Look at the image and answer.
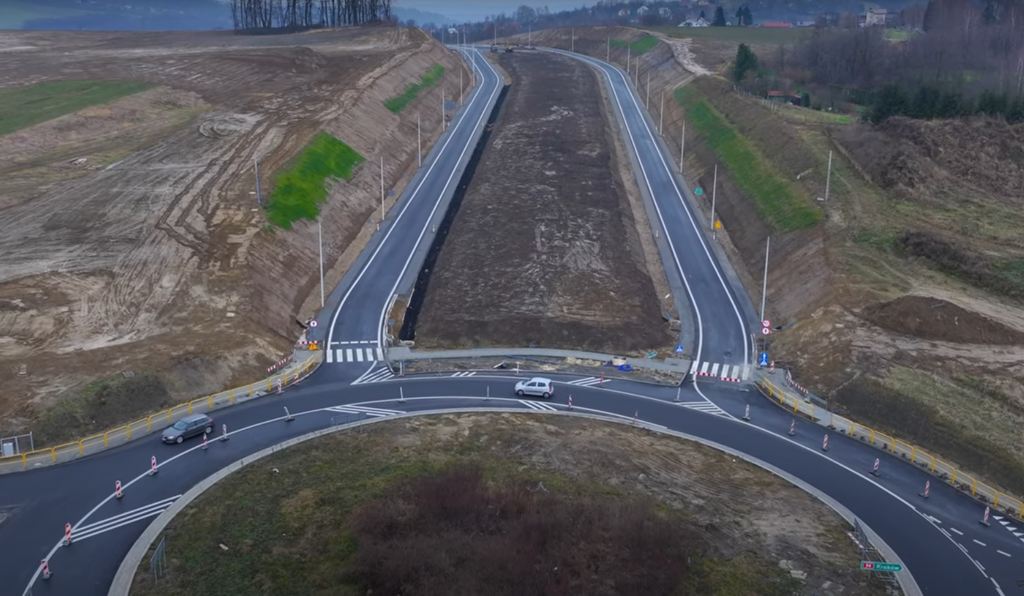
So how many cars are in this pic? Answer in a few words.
2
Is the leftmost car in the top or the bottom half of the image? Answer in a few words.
bottom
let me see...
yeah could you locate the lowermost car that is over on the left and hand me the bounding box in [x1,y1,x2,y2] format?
[160,411,216,443]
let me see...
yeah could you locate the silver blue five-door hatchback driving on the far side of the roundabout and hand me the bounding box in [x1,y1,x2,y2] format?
[514,376,555,397]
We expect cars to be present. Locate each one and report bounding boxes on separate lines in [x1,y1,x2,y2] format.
[514,376,555,397]
[160,411,216,443]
